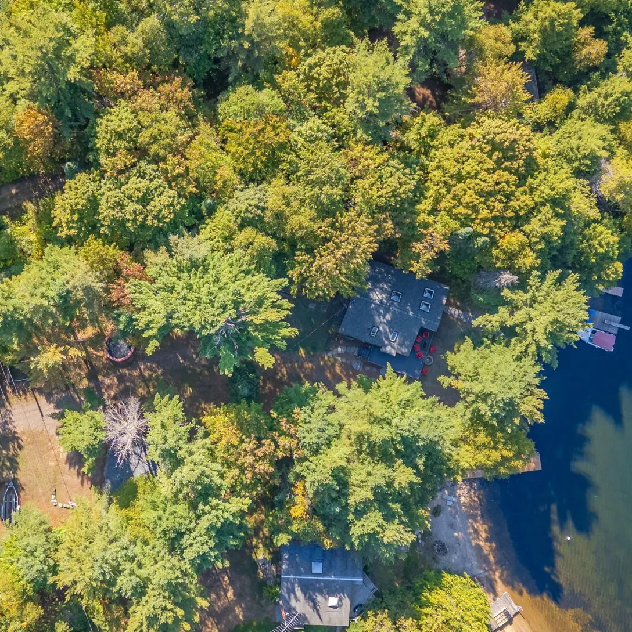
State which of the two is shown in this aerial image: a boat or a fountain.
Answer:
boat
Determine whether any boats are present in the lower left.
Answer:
No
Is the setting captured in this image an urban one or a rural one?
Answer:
rural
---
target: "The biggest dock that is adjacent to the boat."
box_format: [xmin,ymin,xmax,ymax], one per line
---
[576,306,622,333]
